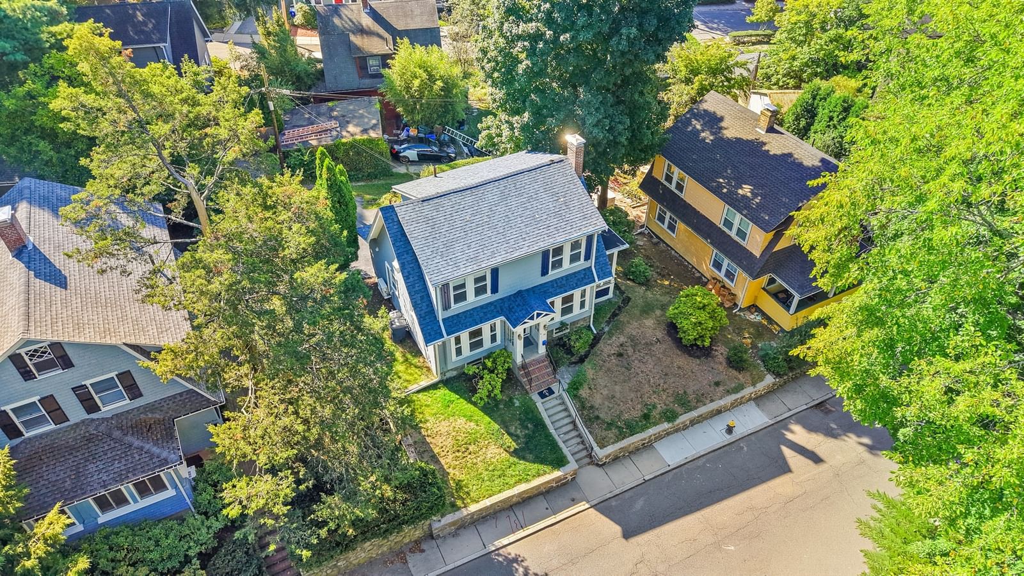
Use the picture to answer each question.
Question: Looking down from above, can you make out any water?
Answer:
No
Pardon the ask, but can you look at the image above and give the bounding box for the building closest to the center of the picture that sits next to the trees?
[359,133,633,386]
